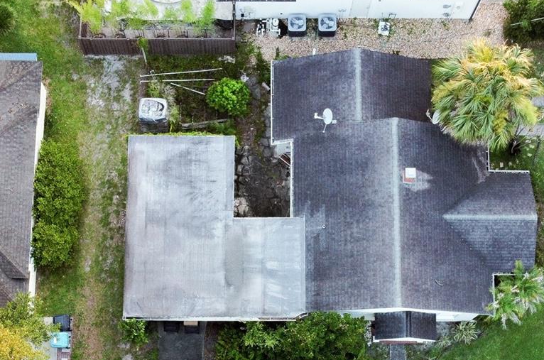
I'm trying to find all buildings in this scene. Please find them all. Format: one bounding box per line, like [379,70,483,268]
[0,52,48,318]
[218,0,485,22]
[123,48,537,349]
